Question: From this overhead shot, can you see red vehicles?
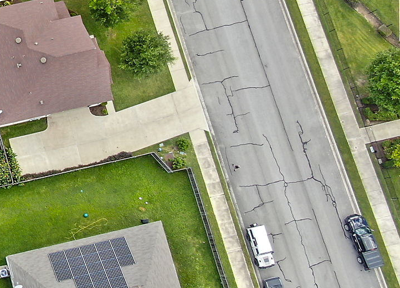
No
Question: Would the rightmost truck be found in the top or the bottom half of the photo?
bottom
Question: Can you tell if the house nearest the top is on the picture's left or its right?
left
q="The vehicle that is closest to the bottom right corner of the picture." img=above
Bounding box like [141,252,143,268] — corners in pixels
[346,214,386,269]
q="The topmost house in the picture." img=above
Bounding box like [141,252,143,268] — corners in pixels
[0,0,114,127]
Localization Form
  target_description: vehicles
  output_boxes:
[346,214,386,269]
[261,274,284,288]
[245,223,275,268]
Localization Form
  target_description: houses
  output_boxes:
[6,220,181,288]
[0,0,114,127]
